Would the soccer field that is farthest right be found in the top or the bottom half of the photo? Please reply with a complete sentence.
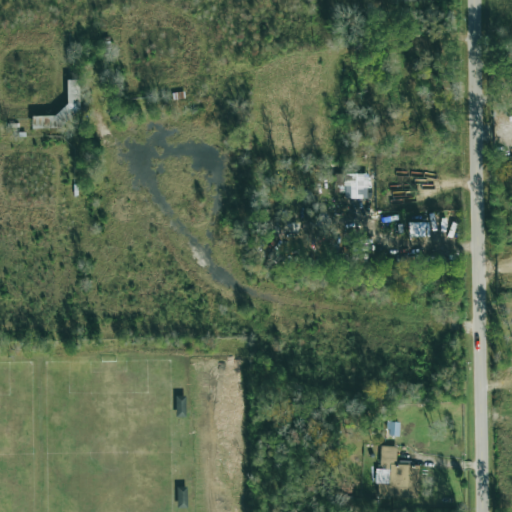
The soccer field that is farthest right sits in the bottom half of the picture.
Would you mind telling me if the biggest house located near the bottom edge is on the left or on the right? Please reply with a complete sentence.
It is on the right.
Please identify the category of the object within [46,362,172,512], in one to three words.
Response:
soccer field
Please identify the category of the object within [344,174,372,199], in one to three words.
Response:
house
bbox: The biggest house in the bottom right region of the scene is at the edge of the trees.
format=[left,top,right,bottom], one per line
[376,446,410,490]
